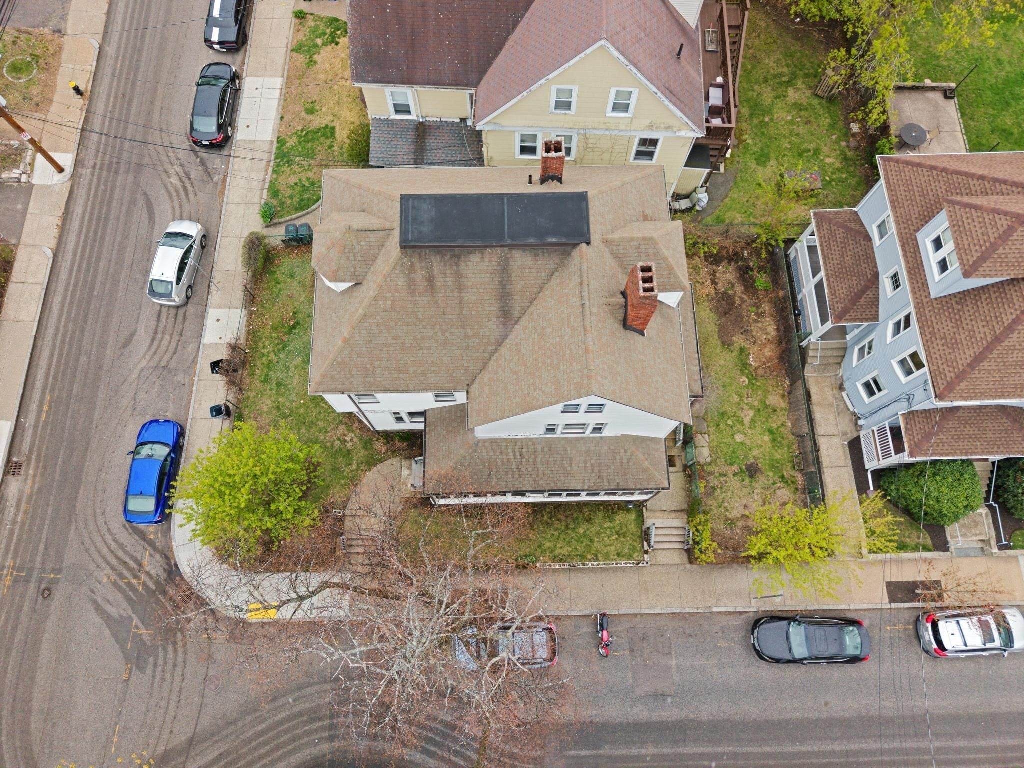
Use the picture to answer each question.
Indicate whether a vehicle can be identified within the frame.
Yes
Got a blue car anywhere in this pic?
Yes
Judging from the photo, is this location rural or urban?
urban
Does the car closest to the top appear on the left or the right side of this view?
left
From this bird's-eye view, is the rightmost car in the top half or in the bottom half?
bottom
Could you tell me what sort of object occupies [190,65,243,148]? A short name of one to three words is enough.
car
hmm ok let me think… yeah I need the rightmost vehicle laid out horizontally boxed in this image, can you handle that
[911,608,1024,659]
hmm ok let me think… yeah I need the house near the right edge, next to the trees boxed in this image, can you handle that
[787,150,1024,491]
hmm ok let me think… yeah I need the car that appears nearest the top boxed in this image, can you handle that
[207,0,251,44]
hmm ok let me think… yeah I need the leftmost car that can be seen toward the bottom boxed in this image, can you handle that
[123,420,184,525]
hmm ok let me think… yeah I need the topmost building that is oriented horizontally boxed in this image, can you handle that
[348,0,753,200]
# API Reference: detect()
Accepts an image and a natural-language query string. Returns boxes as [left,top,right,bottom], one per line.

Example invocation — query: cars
[911,608,1024,659]
[751,616,874,667]
[190,65,243,148]
[207,0,251,44]
[123,420,184,525]
[148,221,207,309]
